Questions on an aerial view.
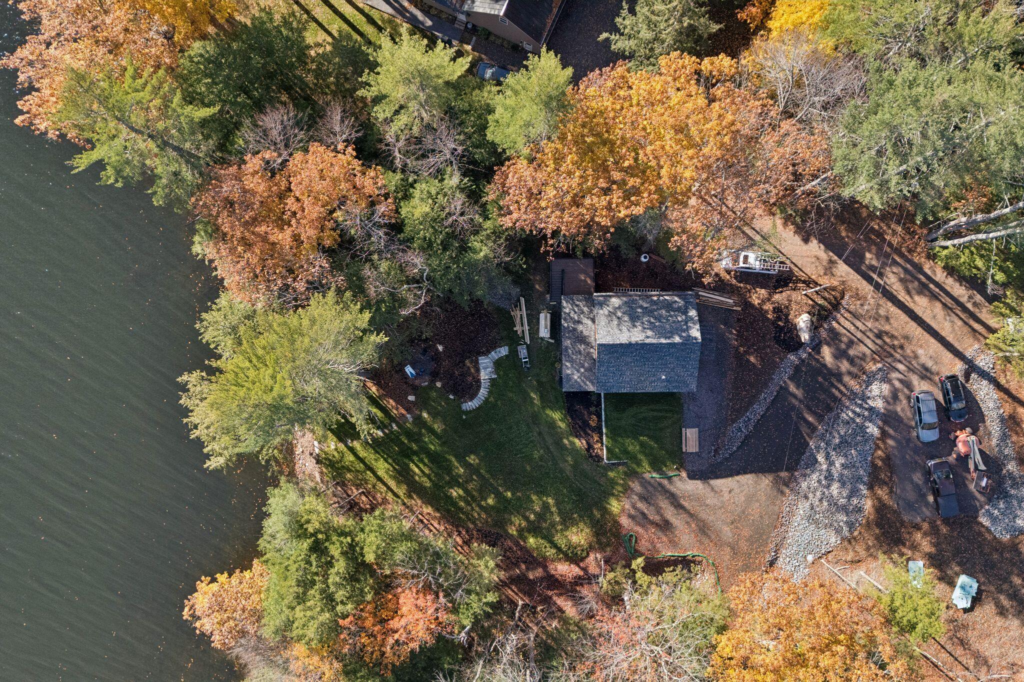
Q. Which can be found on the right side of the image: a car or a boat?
car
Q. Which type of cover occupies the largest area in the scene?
trees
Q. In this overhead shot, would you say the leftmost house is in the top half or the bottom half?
top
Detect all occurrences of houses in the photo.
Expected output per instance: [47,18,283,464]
[434,0,568,60]
[561,288,704,394]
